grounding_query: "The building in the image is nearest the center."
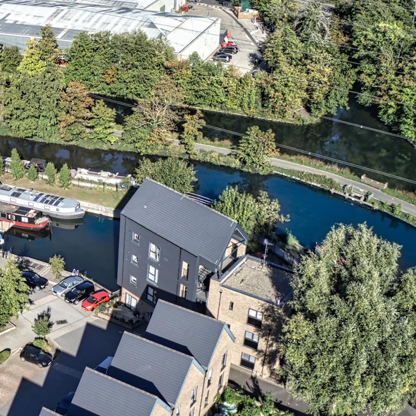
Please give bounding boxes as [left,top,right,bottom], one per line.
[116,175,250,321]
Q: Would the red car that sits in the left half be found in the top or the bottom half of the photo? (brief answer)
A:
bottom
